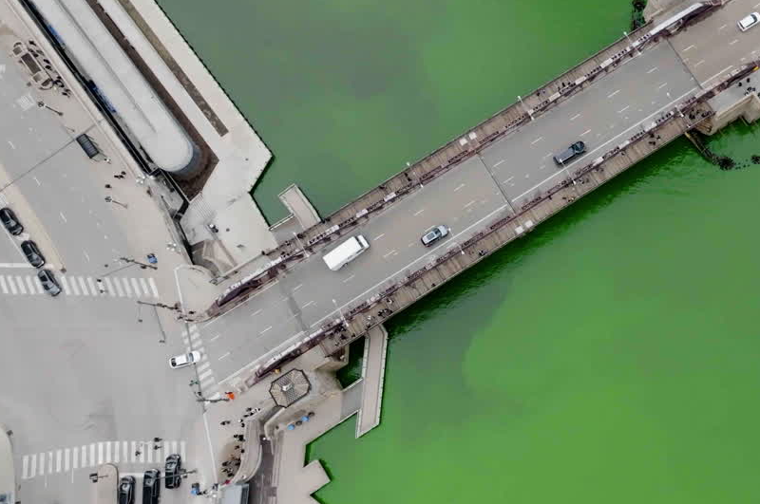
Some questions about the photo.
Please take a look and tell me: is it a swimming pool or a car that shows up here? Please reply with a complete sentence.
Of the two, only a car appears.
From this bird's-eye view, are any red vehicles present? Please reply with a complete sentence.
No, the scene contains no red vehicle.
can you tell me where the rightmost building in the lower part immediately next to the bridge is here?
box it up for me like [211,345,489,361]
[268,369,323,408]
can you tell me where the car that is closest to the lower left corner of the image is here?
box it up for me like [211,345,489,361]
[118,474,138,504]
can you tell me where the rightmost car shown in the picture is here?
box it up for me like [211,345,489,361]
[736,12,760,31]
